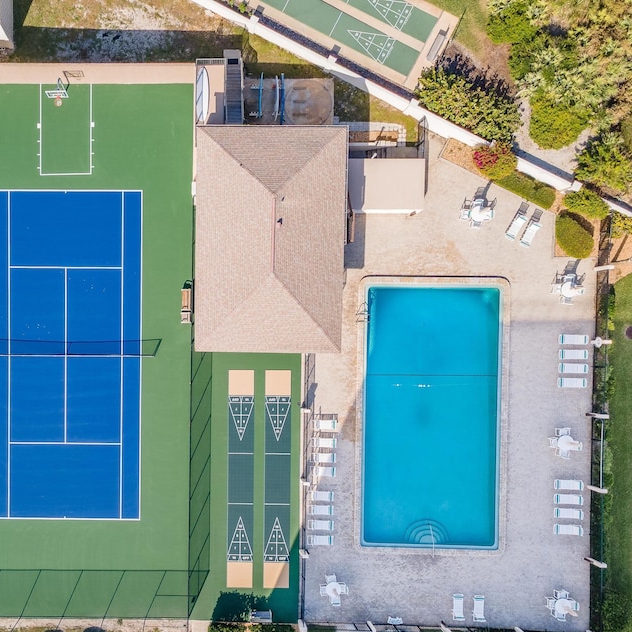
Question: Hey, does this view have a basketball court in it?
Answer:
Yes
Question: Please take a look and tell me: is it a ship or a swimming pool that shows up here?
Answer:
swimming pool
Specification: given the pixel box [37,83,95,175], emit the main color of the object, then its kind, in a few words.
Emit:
green basketball court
